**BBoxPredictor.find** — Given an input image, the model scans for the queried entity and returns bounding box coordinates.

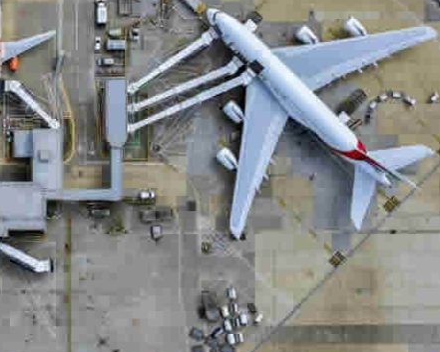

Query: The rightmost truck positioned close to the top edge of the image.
[243,9,265,31]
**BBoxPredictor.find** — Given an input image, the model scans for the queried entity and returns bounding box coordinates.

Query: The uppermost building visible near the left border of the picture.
[13,128,61,179]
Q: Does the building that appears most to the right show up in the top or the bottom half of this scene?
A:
top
